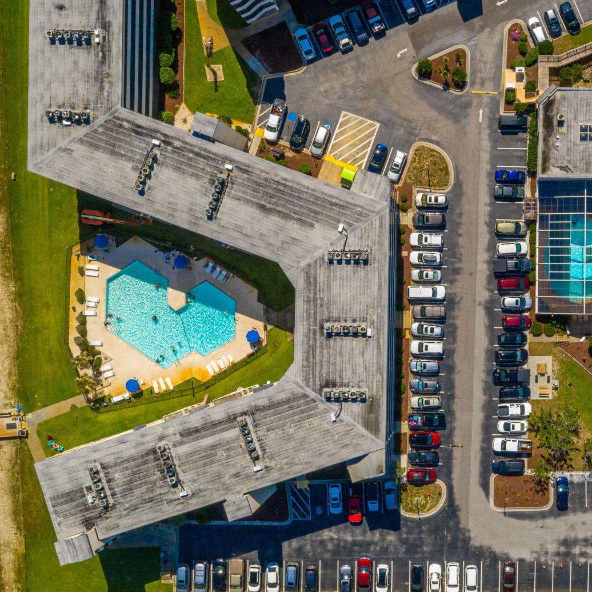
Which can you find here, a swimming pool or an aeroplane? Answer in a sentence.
Visible in the photo is a swimming pool.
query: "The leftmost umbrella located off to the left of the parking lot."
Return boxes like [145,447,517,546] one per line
[94,233,110,249]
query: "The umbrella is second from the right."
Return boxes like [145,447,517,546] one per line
[173,254,190,270]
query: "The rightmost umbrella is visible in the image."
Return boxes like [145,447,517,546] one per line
[246,329,262,345]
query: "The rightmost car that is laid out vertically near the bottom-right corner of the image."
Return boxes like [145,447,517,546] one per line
[555,475,570,509]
